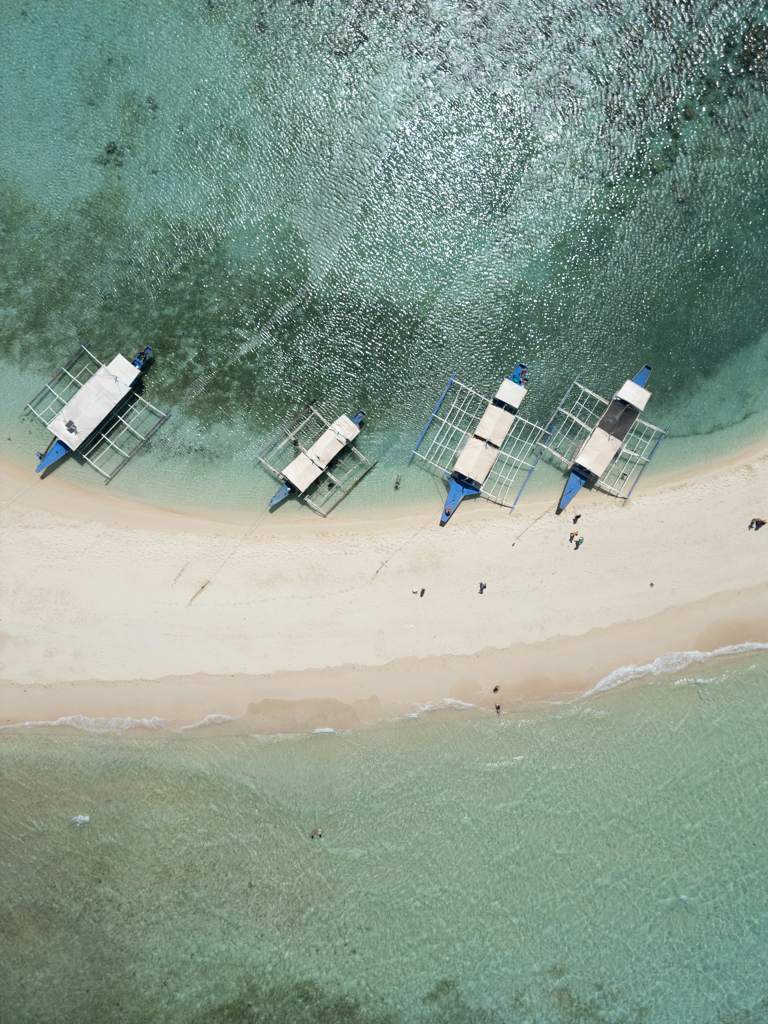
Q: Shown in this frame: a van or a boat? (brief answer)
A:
boat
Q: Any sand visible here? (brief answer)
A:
Yes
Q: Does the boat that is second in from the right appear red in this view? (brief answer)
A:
No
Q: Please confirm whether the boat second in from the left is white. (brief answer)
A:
Yes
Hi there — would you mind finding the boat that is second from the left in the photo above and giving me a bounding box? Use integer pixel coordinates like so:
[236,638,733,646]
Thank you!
[252,400,378,518]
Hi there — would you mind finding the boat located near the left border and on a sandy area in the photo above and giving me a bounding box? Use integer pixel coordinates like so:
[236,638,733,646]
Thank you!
[24,340,170,482]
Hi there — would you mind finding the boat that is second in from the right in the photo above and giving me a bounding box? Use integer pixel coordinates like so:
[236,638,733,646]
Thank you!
[410,363,556,523]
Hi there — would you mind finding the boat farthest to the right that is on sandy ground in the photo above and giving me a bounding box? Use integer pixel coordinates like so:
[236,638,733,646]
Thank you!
[533,364,670,511]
